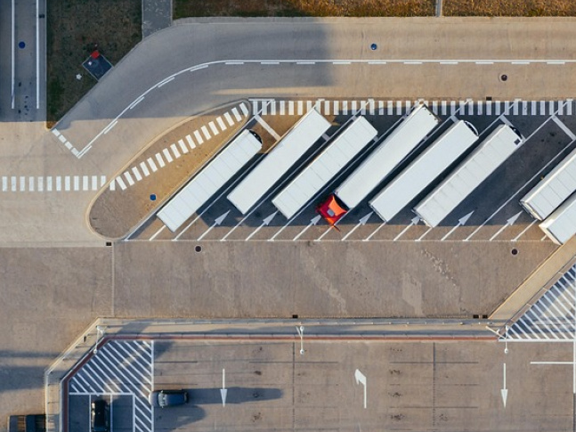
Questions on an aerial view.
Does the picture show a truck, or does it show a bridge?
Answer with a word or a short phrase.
truck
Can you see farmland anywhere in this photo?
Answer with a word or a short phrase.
No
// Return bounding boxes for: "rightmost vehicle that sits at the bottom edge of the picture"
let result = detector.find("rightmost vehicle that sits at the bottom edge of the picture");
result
[150,390,188,411]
